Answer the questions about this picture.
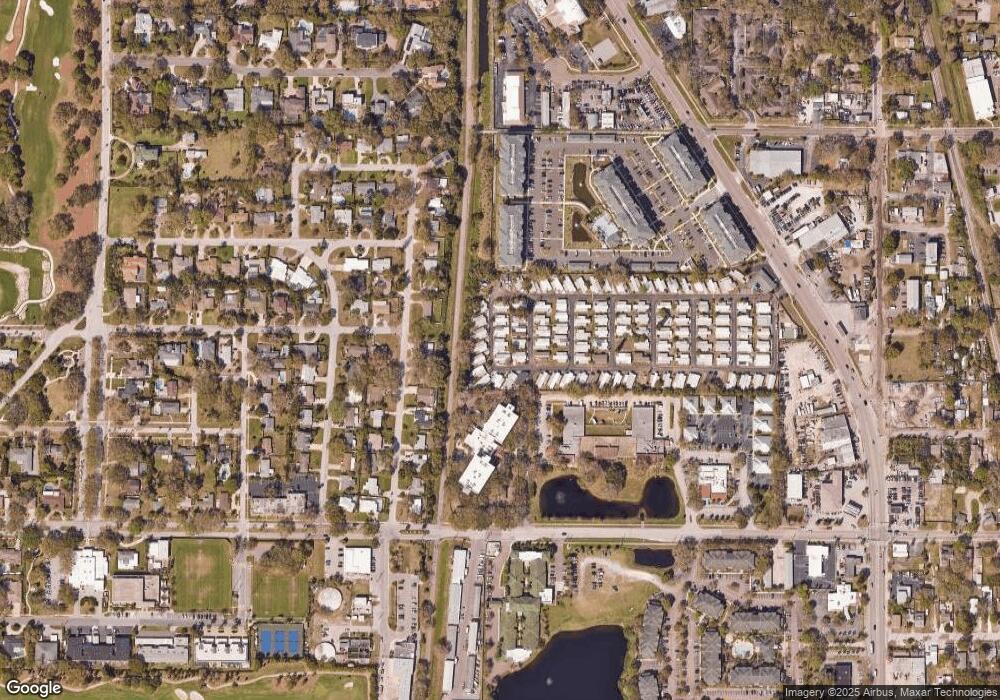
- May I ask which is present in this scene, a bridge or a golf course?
golf course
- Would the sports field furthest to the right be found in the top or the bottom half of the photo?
bottom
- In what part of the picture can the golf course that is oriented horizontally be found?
bottom left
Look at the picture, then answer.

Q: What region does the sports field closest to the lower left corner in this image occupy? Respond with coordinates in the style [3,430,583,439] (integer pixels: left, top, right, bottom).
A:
[174,540,231,611]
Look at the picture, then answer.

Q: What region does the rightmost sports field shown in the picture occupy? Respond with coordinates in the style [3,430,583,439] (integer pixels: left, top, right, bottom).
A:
[254,566,309,617]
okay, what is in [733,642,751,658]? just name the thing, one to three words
swimming pool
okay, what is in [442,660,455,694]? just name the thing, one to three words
shed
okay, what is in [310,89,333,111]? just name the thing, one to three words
house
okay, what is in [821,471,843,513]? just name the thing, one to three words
building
